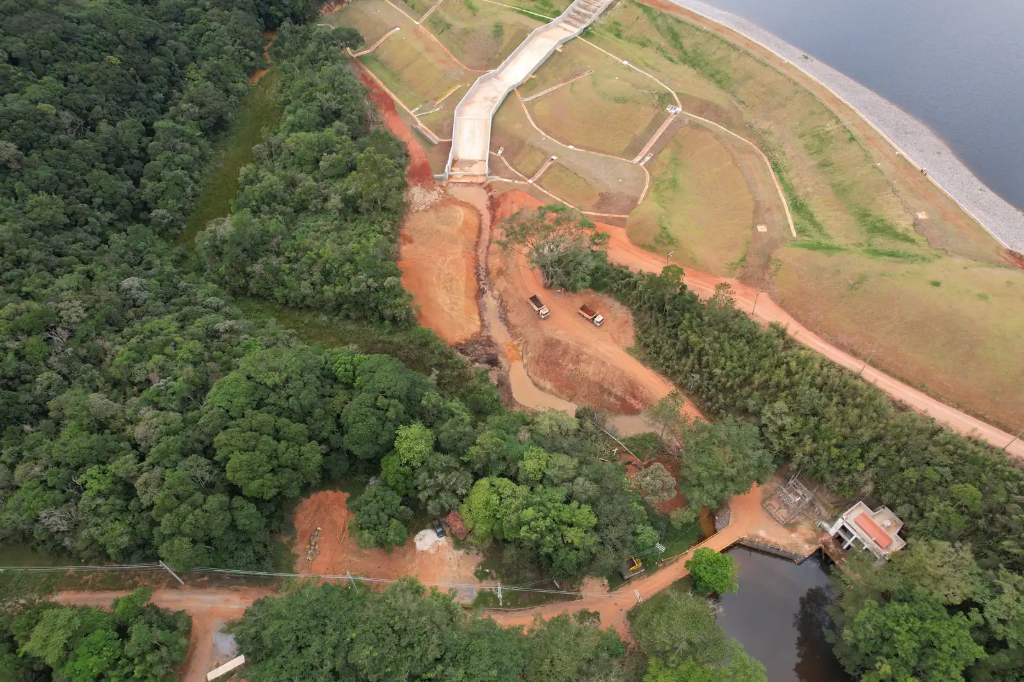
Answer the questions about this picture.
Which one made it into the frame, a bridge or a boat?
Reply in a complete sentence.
This aerial view contains a bridge.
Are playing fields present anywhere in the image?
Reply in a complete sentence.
No, the picture doesn't show any playing field.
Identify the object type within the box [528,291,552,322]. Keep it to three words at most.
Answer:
truck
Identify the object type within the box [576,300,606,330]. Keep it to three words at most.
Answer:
truck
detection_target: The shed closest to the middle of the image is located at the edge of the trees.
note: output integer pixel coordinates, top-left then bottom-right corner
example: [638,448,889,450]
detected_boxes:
[441,511,474,549]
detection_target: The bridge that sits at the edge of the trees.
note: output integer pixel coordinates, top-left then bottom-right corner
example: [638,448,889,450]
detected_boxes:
[684,522,742,556]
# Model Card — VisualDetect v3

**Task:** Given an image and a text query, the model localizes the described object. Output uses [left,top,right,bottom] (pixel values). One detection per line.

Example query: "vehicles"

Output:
[615,561,648,585]
[528,291,552,322]
[432,516,448,542]
[576,300,606,330]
